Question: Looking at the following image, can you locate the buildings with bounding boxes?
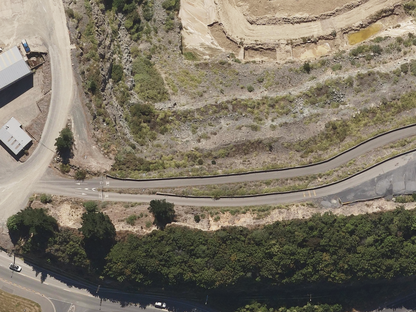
[0,44,32,88]
[0,116,34,154]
